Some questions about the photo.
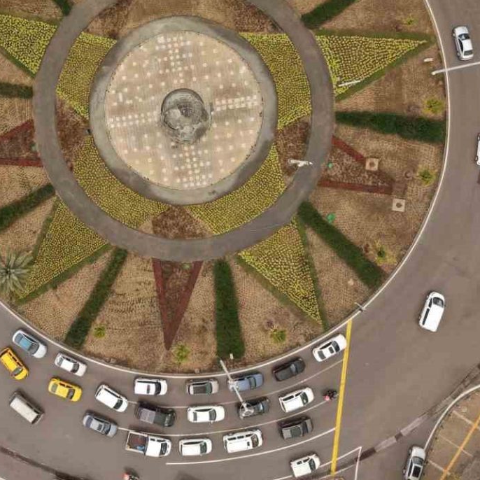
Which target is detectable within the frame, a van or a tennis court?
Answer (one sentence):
Of the two, only a van appears.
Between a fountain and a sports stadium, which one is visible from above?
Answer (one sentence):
There is a fountain in the scene.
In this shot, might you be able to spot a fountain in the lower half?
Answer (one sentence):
No, no fountain is visible in the lower half.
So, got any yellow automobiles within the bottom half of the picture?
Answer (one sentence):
Yes, the scene does show a yellow automobile within the bottom half of the picture.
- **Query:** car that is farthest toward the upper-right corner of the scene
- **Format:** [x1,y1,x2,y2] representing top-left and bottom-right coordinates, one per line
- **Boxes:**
[453,27,473,60]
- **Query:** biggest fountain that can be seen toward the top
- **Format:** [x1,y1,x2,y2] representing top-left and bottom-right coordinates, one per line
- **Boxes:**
[89,16,278,205]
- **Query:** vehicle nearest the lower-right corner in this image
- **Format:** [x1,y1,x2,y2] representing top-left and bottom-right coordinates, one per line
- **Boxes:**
[404,444,426,480]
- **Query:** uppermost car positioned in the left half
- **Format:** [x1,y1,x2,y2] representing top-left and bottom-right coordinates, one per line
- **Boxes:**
[11,328,48,359]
